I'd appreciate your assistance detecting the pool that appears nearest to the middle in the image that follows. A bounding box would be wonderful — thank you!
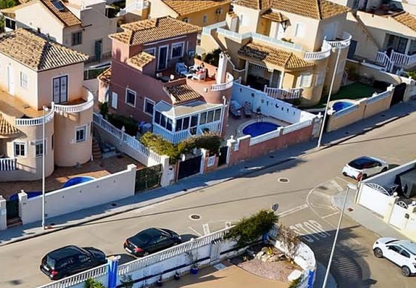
[237,120,282,138]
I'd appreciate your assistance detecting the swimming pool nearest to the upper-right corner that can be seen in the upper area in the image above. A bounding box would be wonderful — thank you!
[325,99,358,115]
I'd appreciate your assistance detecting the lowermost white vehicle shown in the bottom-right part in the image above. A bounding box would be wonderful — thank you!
[371,238,416,277]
